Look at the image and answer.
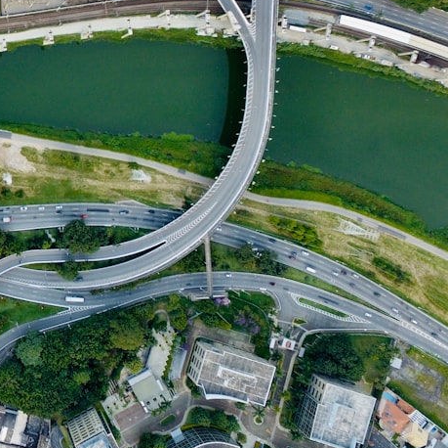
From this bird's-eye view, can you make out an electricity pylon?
Yes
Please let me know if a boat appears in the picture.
No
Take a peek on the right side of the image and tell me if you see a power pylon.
Yes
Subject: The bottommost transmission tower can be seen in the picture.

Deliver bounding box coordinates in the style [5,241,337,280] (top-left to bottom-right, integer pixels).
[341,240,388,272]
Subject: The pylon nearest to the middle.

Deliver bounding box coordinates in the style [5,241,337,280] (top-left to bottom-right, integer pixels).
[129,166,148,185]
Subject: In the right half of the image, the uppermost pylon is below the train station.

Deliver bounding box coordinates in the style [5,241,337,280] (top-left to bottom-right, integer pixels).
[333,214,387,250]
